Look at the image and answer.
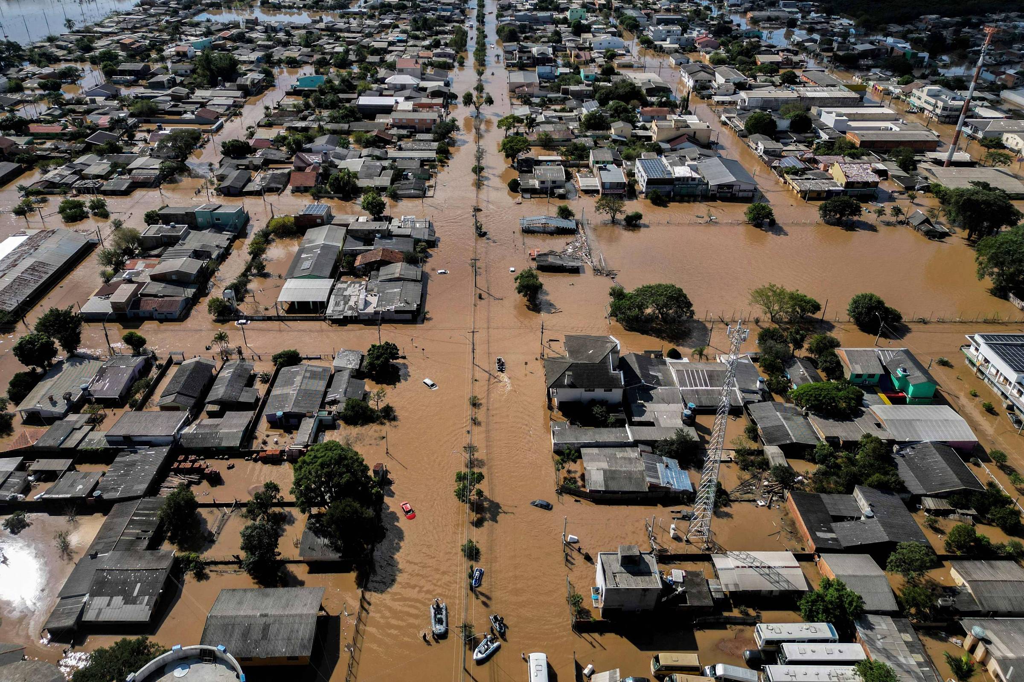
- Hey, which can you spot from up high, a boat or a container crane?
boat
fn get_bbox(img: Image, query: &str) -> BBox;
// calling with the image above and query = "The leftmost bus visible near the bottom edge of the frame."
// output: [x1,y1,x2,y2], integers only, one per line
[527,655,547,682]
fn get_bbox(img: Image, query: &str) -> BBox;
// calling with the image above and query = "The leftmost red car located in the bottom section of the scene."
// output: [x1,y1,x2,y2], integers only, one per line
[400,502,416,522]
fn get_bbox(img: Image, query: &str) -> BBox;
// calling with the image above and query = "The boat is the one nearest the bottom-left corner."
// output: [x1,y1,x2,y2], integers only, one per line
[428,597,448,635]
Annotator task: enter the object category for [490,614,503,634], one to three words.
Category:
boat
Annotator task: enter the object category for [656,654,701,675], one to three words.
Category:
vehicle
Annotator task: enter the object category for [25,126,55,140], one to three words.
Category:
house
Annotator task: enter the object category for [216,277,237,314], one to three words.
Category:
water tower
